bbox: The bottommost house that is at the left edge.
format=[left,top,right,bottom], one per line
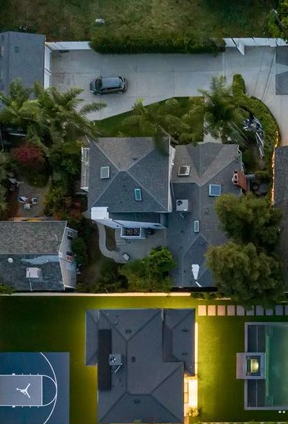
[0,217,79,291]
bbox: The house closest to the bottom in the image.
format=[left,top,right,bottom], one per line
[84,308,196,424]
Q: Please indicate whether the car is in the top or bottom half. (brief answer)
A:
top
